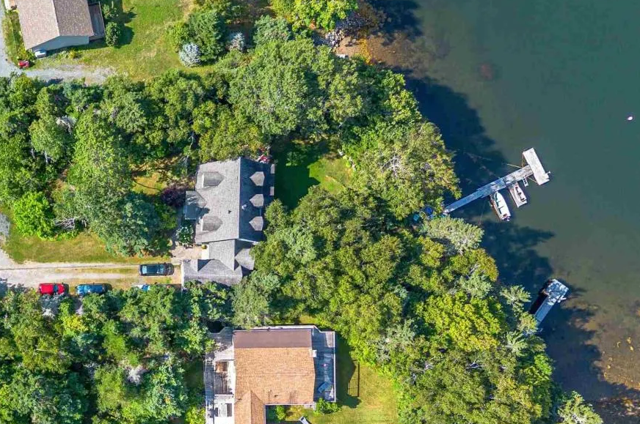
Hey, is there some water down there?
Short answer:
Yes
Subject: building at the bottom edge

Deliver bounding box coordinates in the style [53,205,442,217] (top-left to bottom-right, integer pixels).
[203,325,335,424]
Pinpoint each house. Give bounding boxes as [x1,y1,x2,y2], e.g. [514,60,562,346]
[180,152,275,298]
[203,325,335,424]
[2,0,108,52]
